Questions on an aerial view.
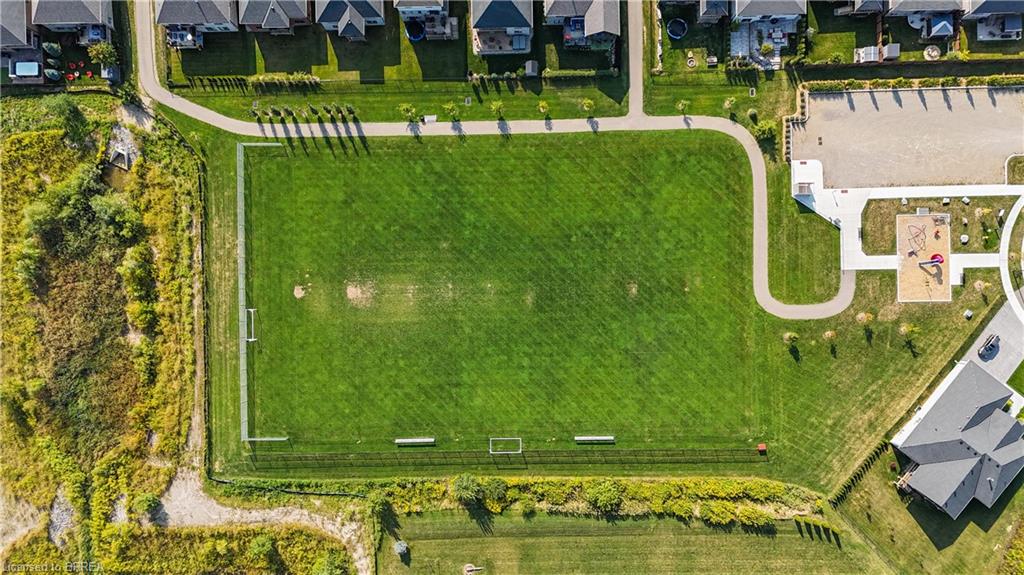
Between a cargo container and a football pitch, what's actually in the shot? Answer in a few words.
football pitch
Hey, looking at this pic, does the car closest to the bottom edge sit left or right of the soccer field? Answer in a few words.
to the right of it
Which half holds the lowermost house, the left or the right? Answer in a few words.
right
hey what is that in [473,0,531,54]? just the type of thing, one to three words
house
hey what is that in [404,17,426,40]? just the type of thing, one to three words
swimming pool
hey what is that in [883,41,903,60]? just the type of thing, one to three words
shed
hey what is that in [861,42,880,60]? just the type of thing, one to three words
shed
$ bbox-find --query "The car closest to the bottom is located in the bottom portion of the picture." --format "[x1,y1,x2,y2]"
[975,334,998,356]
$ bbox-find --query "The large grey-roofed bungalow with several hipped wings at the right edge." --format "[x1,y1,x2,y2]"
[887,360,1024,521]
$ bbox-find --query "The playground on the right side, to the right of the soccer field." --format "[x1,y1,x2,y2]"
[897,214,953,303]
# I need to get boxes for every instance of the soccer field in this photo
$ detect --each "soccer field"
[252,141,770,452]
